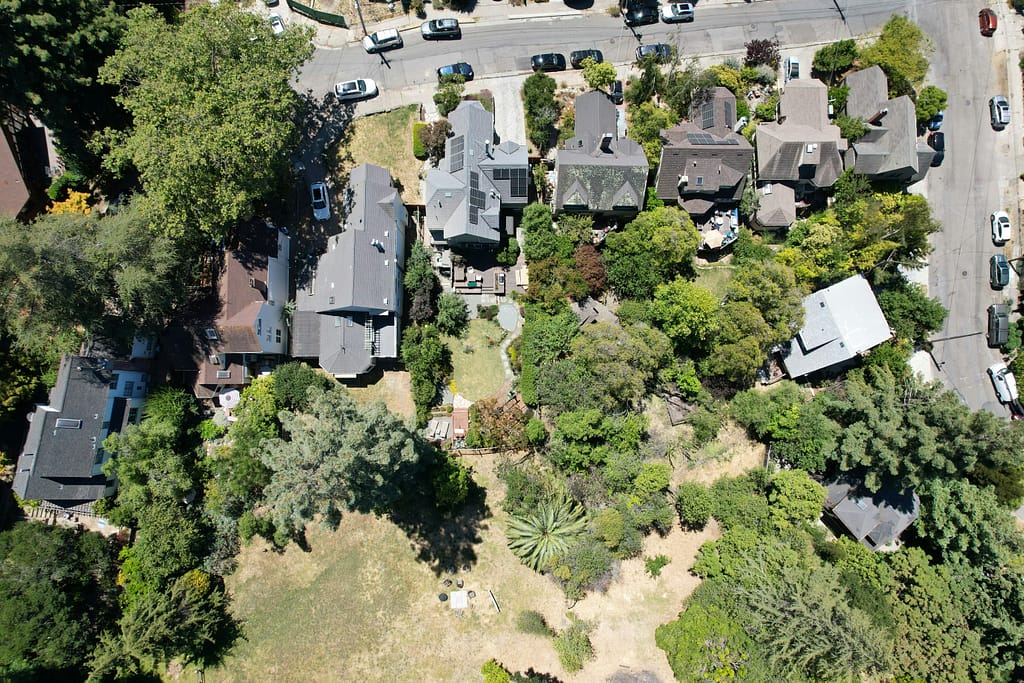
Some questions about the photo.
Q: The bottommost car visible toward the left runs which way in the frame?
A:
from top to bottom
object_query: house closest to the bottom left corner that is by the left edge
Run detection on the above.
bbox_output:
[12,353,147,499]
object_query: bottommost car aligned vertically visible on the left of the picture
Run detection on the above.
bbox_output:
[311,182,331,221]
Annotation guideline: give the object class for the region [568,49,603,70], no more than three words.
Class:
car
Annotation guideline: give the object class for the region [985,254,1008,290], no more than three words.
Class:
car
